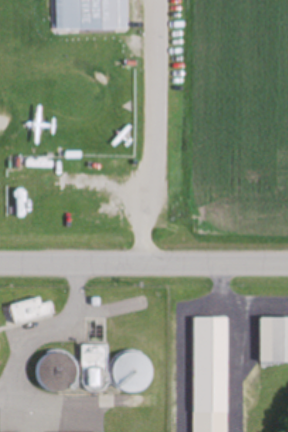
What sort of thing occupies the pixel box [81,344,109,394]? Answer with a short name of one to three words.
building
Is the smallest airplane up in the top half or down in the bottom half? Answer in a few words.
top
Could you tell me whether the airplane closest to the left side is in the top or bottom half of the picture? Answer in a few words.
top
